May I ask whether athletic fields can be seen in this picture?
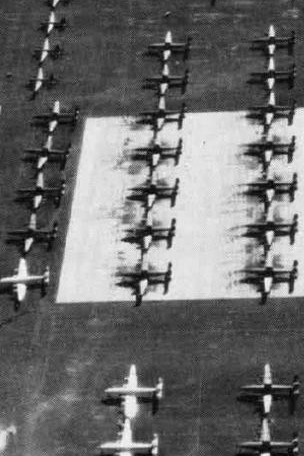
No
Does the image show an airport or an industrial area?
airport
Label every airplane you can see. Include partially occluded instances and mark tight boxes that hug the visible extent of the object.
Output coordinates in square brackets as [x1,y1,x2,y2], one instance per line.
[247,128,296,162]
[106,366,163,415]
[125,210,176,250]
[100,419,159,456]
[7,213,58,251]
[241,363,299,412]
[140,97,187,130]
[250,25,294,54]
[40,10,72,33]
[33,37,66,62]
[135,132,183,167]
[0,258,50,300]
[249,58,295,89]
[148,31,192,60]
[27,65,60,91]
[120,253,172,295]
[33,100,79,131]
[130,170,179,207]
[249,92,297,125]
[16,172,65,208]
[246,206,298,245]
[245,250,298,292]
[238,418,298,456]
[49,0,61,6]
[23,135,71,169]
[247,166,298,203]
[144,63,190,93]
